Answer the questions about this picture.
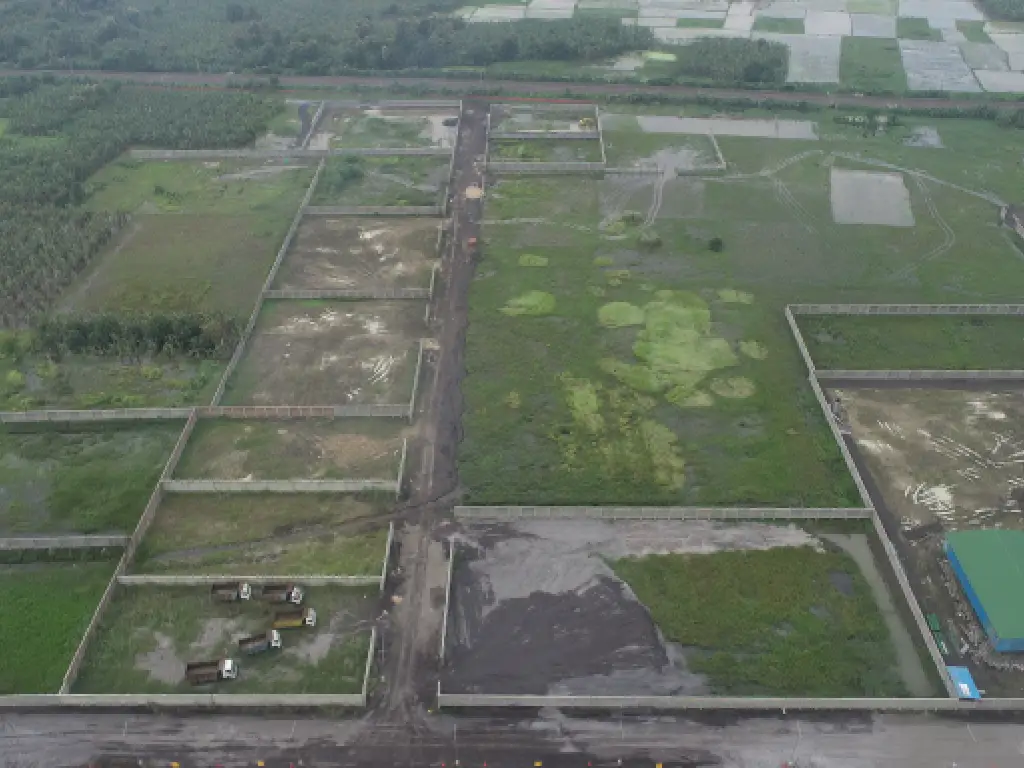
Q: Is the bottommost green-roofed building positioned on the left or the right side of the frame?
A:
right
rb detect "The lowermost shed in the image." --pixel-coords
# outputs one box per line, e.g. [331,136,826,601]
[947,667,980,698]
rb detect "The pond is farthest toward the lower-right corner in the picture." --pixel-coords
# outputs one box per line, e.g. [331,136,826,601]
[836,532,935,696]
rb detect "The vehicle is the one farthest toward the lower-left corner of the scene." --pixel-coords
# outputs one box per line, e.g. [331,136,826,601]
[180,656,240,686]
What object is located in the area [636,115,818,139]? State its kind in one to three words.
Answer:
pond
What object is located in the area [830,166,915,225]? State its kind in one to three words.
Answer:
pond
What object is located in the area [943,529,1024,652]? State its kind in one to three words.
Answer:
building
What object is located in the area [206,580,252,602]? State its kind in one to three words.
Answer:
truck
